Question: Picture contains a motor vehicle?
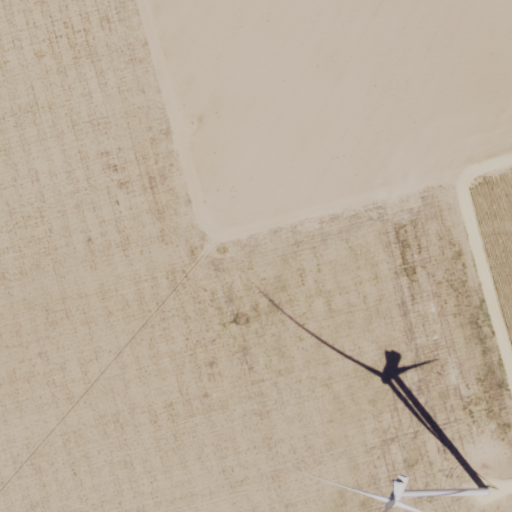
No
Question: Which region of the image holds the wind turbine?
bottom right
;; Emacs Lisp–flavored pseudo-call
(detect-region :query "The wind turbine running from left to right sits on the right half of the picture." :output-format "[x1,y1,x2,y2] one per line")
[280,466,494,512]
